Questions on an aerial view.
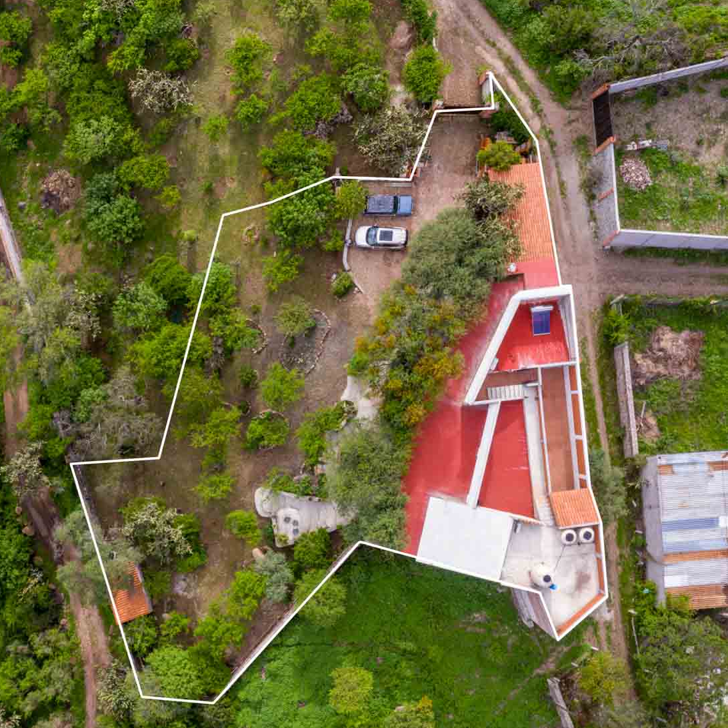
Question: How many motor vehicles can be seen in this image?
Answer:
2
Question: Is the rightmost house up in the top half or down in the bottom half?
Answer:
bottom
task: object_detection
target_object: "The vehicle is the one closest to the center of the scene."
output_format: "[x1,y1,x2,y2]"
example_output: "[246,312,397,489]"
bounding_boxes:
[355,223,408,249]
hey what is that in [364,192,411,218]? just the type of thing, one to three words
car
